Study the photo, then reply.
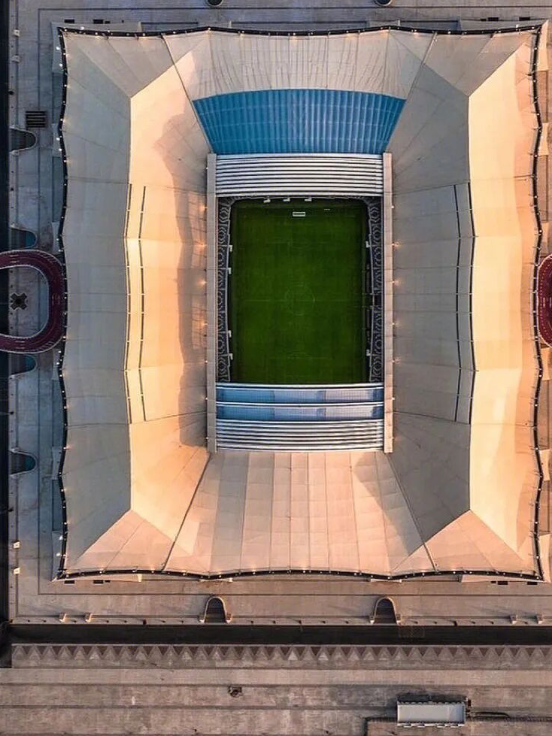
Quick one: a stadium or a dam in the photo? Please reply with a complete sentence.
I can see a stadium in this picture.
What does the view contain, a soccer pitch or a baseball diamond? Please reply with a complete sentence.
This aerial view contains a soccer pitch.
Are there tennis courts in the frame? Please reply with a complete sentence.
No, no tennis court can be seen from above.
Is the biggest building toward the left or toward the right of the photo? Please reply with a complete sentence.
It is on the right.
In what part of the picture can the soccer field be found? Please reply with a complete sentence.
The soccer field is located in the center region of the scene.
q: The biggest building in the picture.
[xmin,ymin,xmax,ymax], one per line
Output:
[397,698,465,728]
